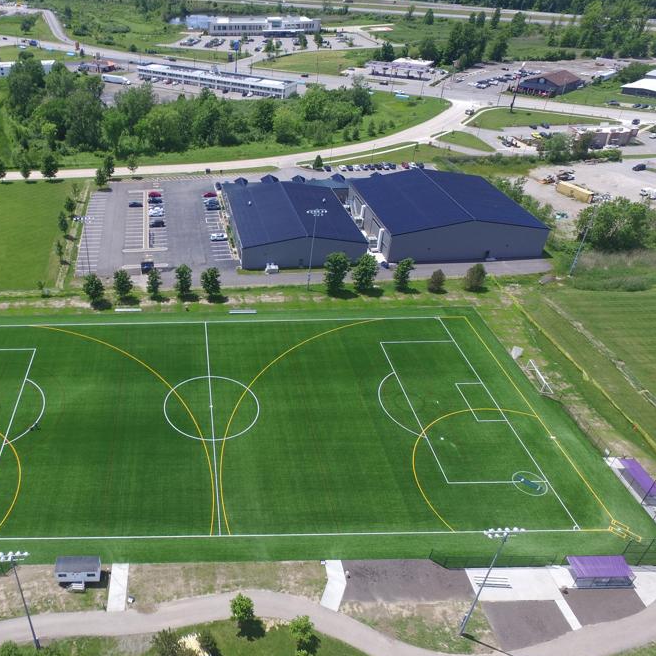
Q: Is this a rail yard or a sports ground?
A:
sports ground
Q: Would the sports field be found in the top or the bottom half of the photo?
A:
bottom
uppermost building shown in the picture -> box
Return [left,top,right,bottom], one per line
[209,16,327,36]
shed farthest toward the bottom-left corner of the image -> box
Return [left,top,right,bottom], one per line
[51,556,101,595]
